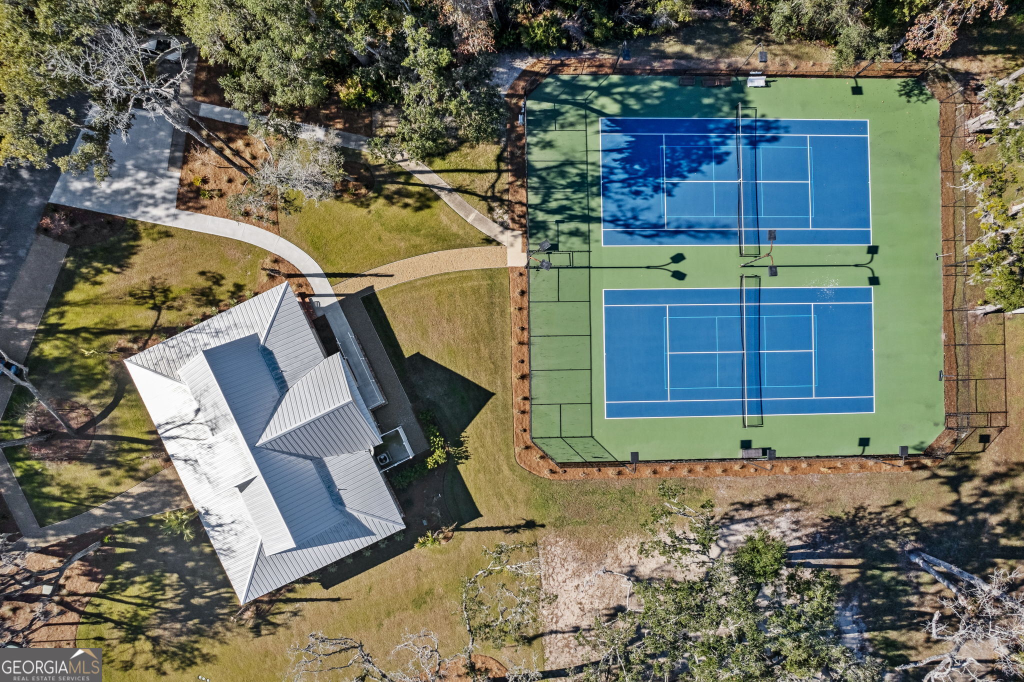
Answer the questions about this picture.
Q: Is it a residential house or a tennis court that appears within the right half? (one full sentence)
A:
It is a tennis court that can be seen within the right half.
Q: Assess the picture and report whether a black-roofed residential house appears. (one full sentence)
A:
No, no black-roofed residential house is visible in the scene.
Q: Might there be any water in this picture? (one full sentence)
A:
No, there's no water in this view.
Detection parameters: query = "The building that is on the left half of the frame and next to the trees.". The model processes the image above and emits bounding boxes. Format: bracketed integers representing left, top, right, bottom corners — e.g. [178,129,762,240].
[126,283,406,603]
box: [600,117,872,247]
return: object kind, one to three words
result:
tennis court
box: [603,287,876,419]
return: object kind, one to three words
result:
tennis court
